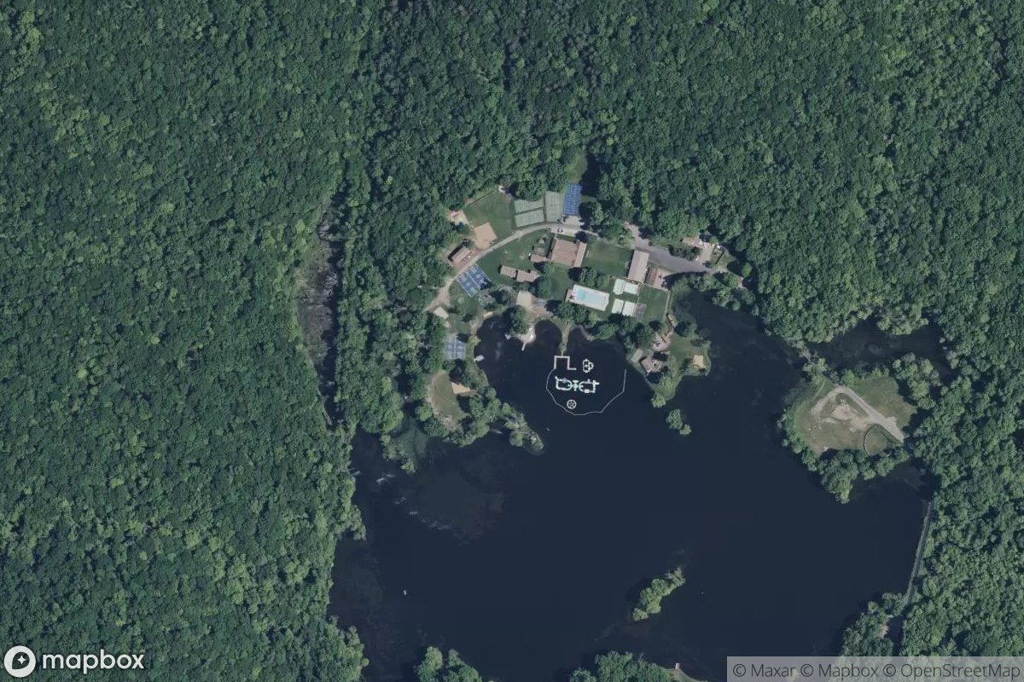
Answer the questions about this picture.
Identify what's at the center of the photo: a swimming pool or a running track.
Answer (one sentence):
The feature located at the center of the photo is a swimming pool.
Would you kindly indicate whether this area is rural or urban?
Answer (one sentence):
From above, the setting appears rural.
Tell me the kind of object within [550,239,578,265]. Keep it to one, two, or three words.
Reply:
building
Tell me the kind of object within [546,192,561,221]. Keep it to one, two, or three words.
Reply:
tennis court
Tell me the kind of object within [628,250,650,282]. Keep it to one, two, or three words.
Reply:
building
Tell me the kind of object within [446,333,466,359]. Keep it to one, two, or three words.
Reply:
basketball court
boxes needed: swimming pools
[571,285,609,311]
